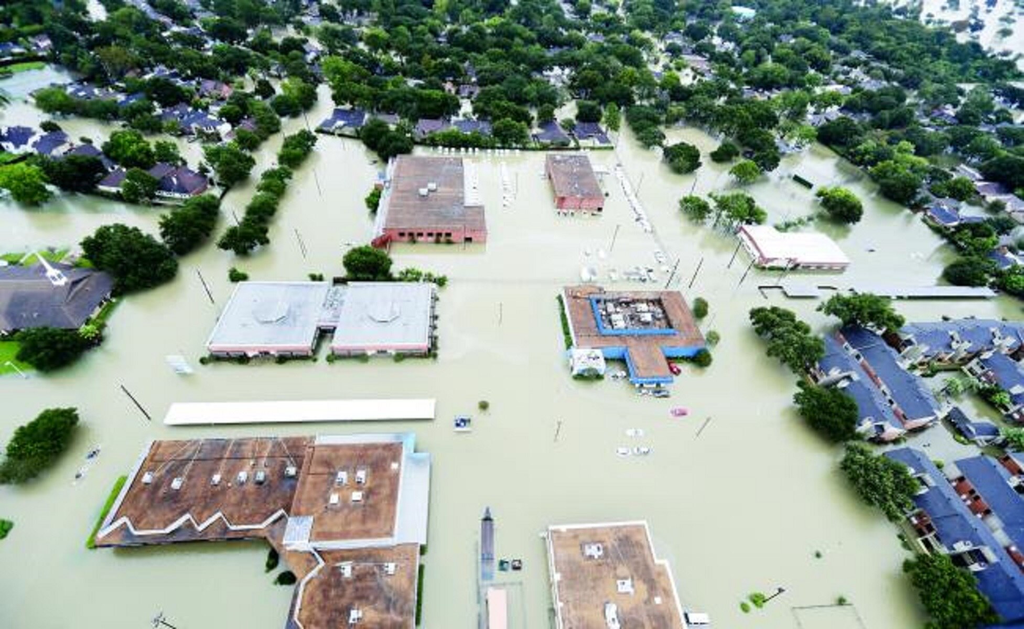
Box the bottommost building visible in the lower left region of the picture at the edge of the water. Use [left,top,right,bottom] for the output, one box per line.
[86,429,431,629]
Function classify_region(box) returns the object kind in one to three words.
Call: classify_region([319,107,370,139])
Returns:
house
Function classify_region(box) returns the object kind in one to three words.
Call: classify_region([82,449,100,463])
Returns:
car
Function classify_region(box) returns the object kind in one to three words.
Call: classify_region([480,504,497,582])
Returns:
trailer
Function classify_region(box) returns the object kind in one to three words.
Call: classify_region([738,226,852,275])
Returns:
building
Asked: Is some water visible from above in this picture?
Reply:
Yes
